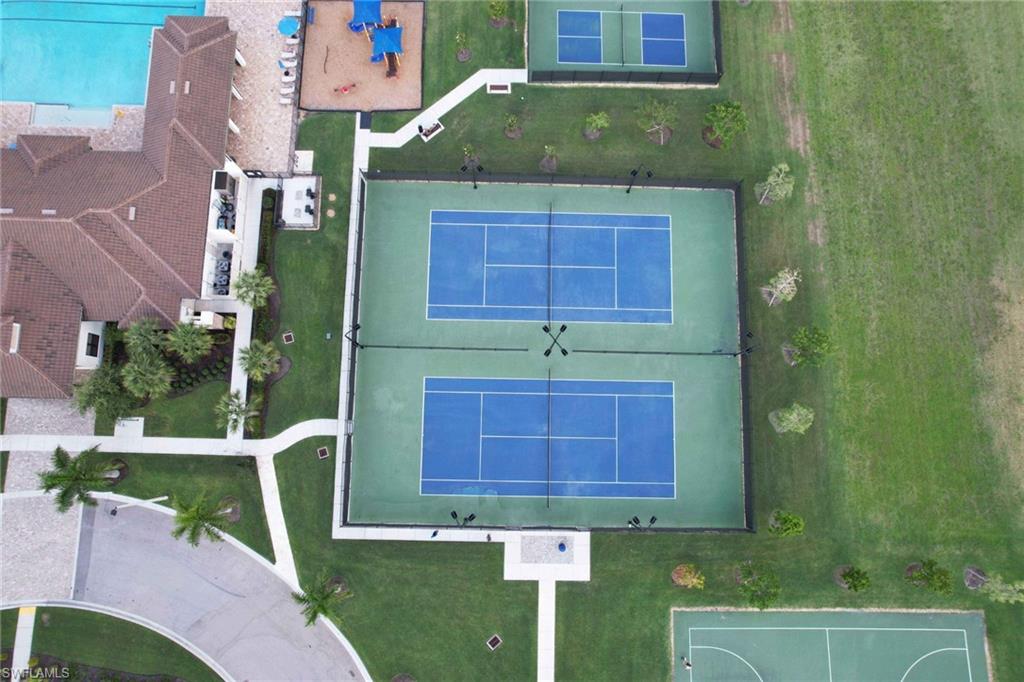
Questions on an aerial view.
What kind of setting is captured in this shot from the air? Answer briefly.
sports ground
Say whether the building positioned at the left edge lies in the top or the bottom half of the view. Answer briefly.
top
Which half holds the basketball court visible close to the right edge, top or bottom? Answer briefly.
bottom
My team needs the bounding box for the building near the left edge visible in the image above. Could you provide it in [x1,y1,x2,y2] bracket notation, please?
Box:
[0,14,247,399]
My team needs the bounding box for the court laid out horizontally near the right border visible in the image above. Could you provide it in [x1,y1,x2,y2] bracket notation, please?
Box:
[673,611,988,682]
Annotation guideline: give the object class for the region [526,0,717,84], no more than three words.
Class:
sports court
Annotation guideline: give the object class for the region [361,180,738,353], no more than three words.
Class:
tennis court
